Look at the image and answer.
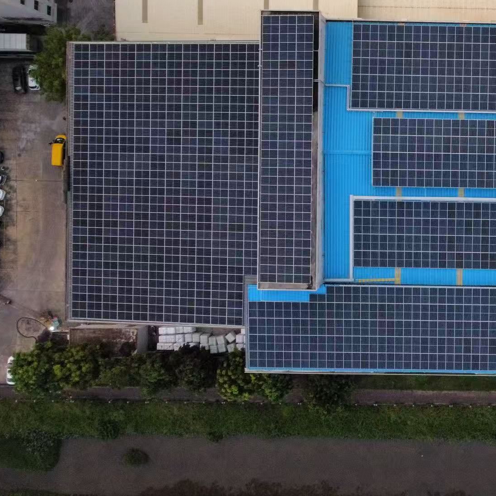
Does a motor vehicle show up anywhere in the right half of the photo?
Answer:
No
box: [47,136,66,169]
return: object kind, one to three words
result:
vehicle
